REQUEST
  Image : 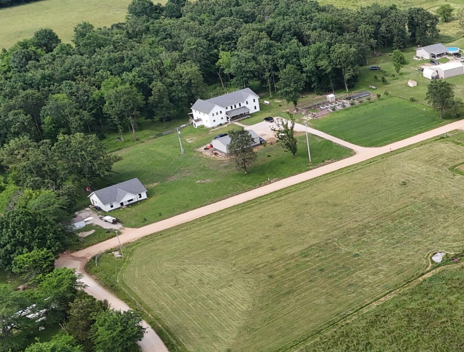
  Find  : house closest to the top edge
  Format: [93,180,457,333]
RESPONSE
[418,42,452,58]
